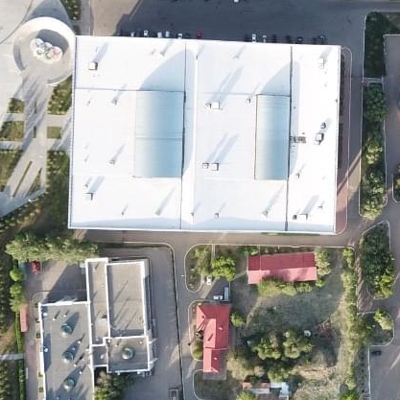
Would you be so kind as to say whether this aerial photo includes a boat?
No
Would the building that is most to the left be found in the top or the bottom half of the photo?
bottom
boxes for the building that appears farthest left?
[38,255,158,400]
